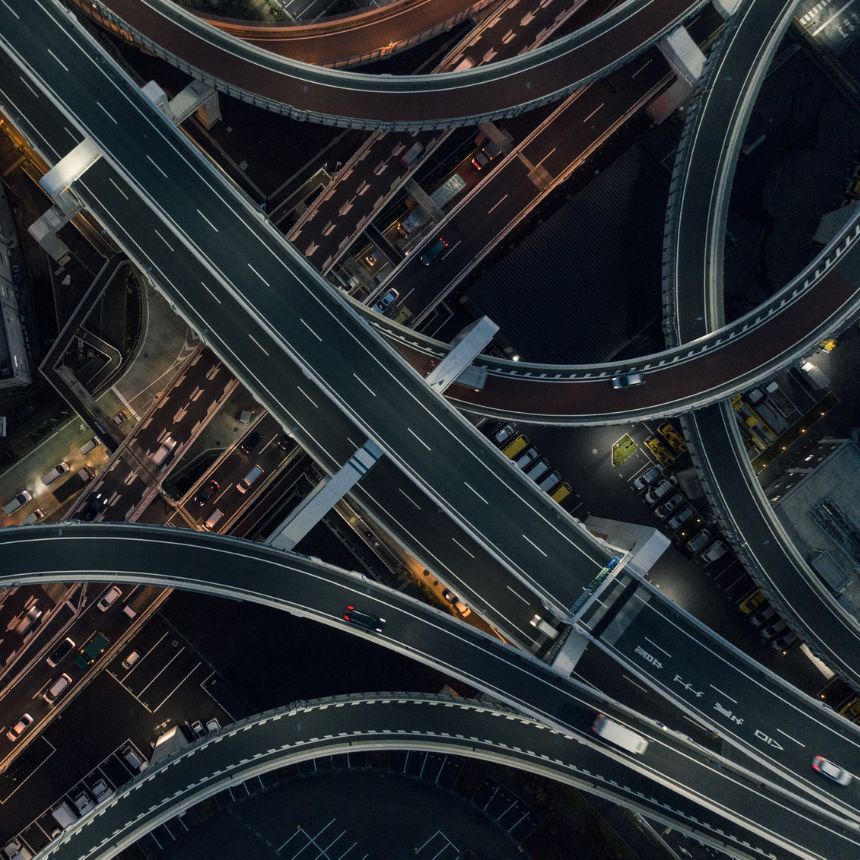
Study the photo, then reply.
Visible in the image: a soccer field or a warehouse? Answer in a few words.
warehouse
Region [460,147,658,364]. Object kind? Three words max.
warehouse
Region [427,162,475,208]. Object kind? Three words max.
truck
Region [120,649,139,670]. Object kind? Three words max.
car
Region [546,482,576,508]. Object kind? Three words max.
vehicle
